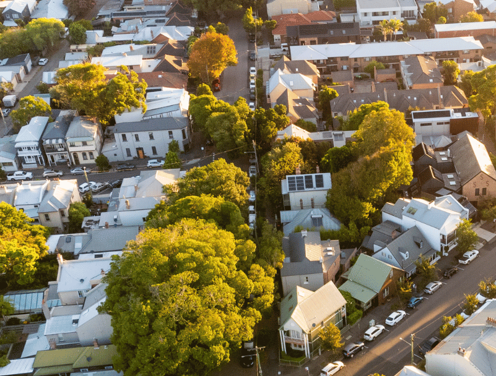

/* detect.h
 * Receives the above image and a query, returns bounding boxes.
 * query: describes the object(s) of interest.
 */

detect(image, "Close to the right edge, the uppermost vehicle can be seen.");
[457,250,480,266]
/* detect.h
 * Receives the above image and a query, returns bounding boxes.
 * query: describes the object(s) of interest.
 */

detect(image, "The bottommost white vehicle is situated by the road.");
[318,361,345,376]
